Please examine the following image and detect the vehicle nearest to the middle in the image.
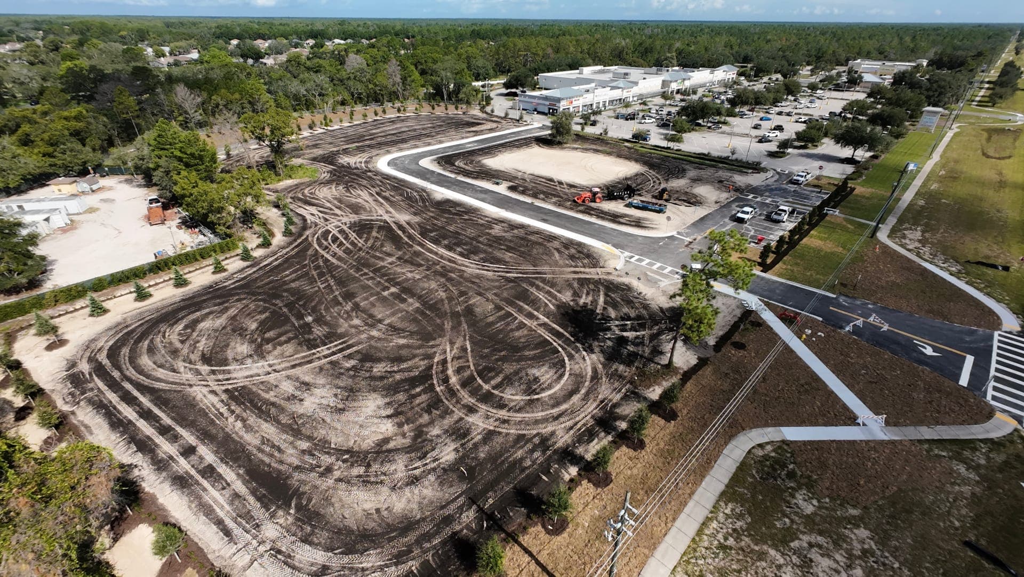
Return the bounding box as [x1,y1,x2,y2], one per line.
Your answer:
[573,187,604,206]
